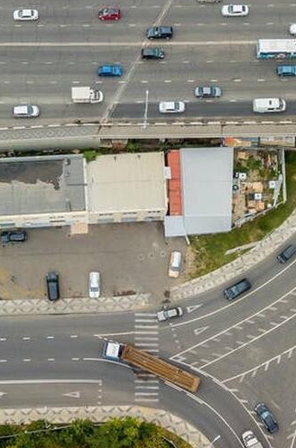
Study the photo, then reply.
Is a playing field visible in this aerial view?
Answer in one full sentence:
No, the scene contains no playing field.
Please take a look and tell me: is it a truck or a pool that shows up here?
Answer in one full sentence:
It is a truck that can be seen here.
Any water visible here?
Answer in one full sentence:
No, the picture contains no water.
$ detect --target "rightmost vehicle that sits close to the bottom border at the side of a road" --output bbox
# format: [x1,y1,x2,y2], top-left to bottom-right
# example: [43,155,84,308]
[255,403,278,433]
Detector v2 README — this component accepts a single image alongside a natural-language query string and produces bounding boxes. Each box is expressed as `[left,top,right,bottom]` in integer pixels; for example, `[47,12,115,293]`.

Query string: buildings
[164,147,234,241]
[0,153,89,235]
[89,151,167,225]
